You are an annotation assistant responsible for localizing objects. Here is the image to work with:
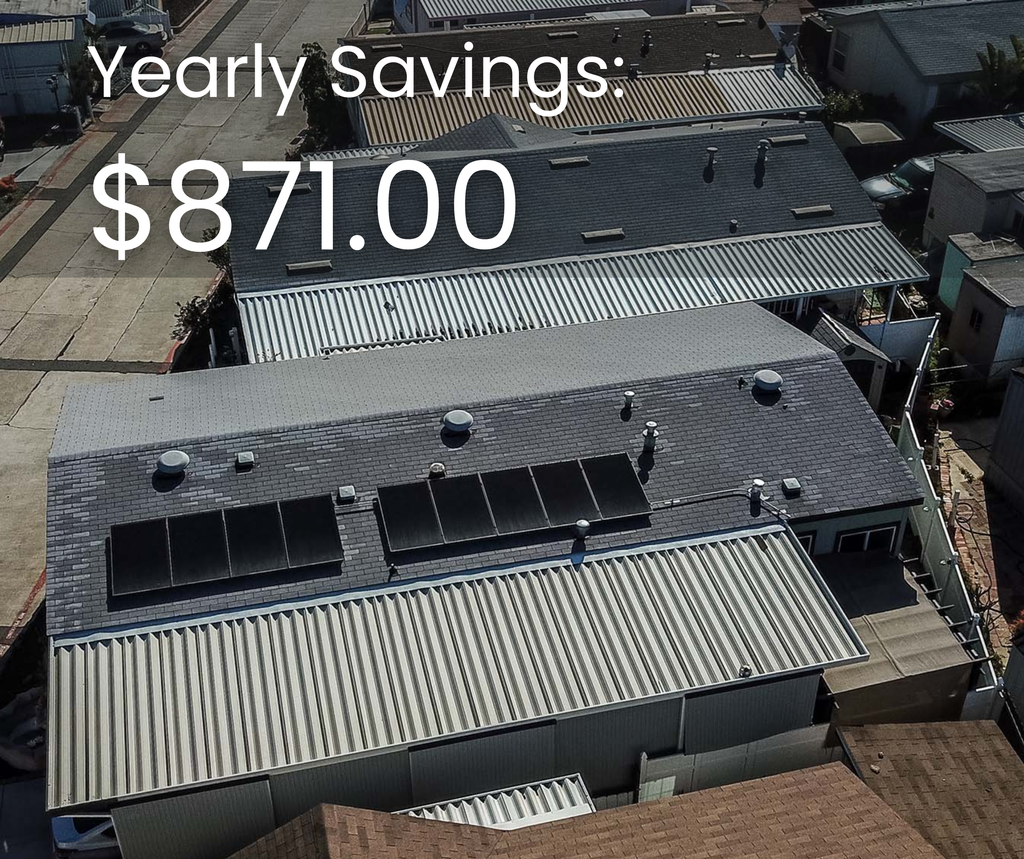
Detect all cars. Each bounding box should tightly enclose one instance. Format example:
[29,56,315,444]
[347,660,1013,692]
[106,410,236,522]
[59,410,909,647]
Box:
[858,152,966,222]
[53,757,318,859]
[84,7,179,48]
